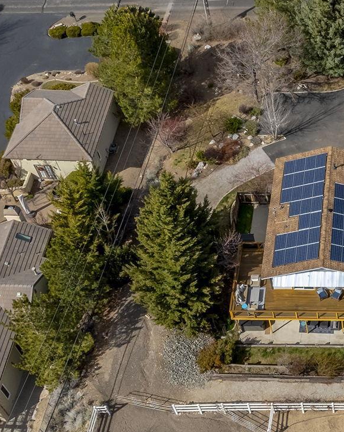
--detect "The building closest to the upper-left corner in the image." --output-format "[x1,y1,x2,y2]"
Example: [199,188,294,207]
[0,76,121,174]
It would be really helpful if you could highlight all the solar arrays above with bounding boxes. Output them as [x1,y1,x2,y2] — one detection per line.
[331,183,344,265]
[268,153,323,270]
